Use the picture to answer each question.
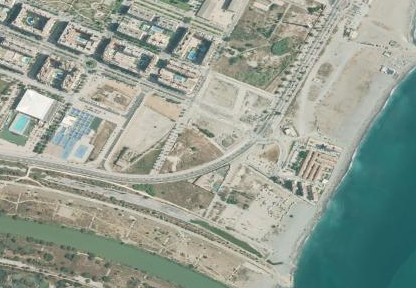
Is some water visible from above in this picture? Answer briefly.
Yes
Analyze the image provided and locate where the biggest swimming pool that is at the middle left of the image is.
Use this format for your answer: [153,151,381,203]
[9,113,33,135]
